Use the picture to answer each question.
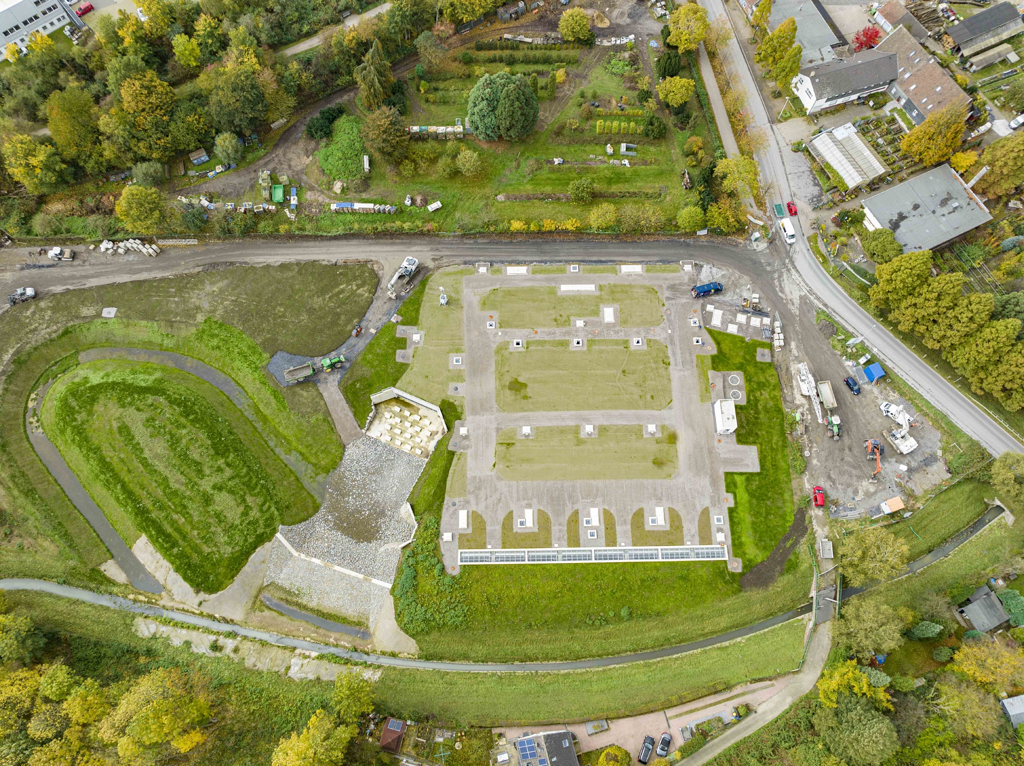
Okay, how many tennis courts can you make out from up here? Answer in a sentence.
There are no tennis courts in this view.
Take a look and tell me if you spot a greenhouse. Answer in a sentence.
Yes, the picture does show a greenhouse.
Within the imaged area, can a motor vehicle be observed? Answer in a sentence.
Yes, there's a motor vehicle down there.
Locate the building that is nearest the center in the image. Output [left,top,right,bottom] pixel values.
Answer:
[711,398,738,433]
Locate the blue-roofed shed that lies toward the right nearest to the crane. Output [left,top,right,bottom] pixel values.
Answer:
[858,363,886,385]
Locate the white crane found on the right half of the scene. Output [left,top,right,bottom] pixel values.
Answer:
[794,356,827,421]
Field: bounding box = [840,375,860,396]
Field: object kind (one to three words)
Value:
car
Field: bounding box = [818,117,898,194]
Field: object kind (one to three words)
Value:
greenhouse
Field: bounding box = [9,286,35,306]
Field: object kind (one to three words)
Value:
work vehicle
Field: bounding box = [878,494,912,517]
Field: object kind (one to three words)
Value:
building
